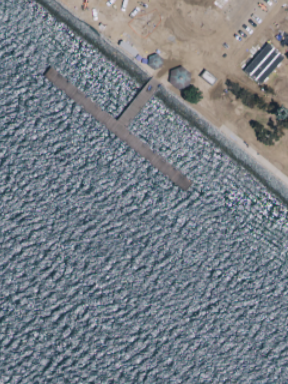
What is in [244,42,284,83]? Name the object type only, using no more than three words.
building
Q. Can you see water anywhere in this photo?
Yes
